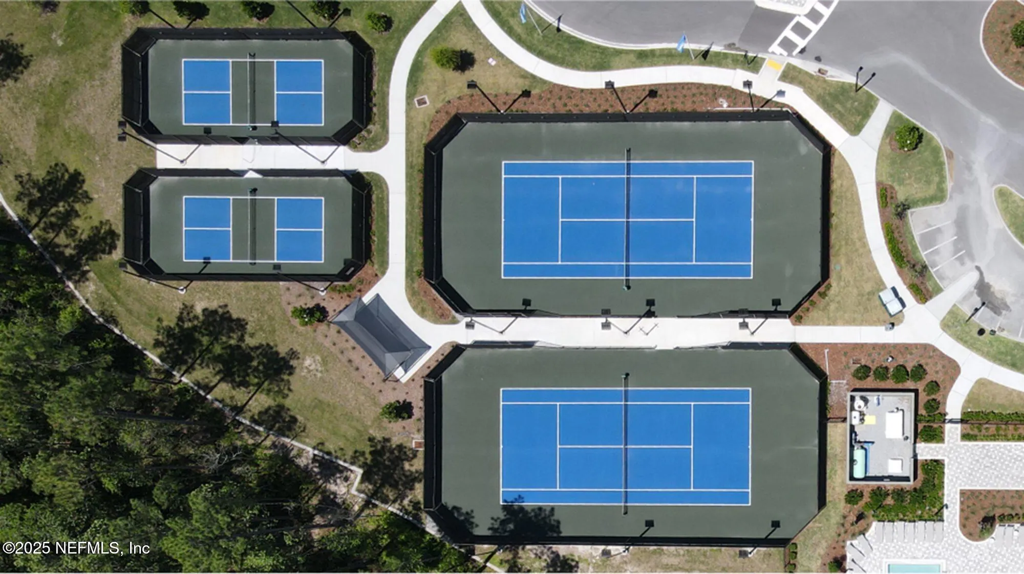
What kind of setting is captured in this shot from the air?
sports ground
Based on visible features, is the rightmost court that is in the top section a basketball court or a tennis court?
tennis court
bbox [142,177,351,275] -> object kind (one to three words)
sports court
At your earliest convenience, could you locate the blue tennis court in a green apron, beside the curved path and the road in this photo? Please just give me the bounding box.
[434,121,822,317]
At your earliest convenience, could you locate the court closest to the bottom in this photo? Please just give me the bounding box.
[434,349,819,545]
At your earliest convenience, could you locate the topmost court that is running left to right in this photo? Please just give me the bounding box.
[141,39,352,143]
